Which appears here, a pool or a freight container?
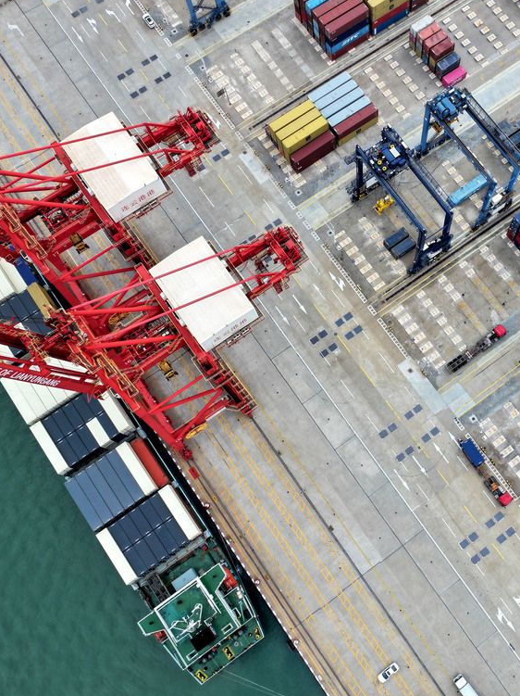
freight container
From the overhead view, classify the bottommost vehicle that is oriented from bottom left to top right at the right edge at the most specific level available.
truck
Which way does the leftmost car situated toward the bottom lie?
diagonally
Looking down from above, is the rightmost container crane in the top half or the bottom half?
top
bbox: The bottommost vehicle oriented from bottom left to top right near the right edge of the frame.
[445,320,510,372]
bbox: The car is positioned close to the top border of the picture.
[141,12,155,27]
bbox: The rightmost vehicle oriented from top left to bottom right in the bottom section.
[479,463,516,505]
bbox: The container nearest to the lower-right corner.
[459,438,485,467]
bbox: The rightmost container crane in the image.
[415,77,520,231]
